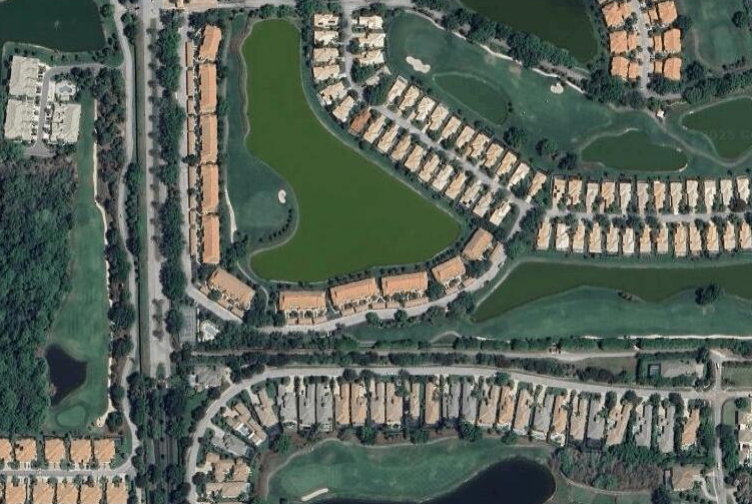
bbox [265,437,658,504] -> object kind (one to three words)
golf course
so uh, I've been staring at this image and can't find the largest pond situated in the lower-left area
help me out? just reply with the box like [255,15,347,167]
[45,345,88,405]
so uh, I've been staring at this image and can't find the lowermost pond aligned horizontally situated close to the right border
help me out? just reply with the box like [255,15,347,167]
[474,261,752,321]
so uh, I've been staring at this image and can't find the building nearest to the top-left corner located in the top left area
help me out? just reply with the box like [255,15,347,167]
[7,54,40,98]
